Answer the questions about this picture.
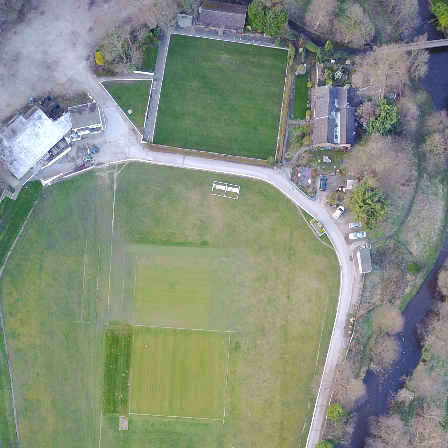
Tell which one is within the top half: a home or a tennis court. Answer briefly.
home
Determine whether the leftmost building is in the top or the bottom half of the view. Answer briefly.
top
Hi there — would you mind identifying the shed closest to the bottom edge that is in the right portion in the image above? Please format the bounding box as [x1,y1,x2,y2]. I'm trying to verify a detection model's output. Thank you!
[353,248,372,274]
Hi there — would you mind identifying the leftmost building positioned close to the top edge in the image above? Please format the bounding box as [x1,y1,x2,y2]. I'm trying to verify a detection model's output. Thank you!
[200,0,248,41]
